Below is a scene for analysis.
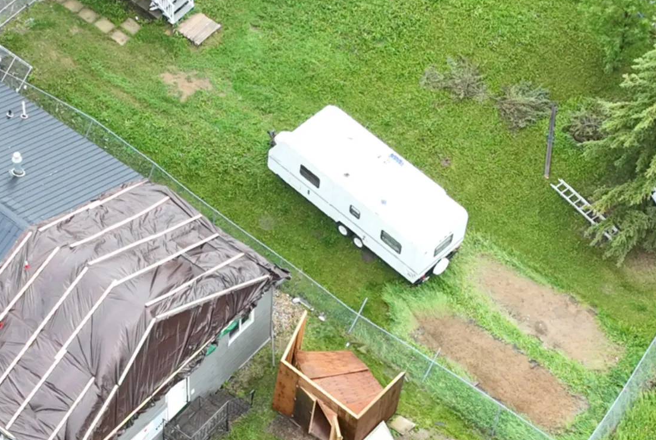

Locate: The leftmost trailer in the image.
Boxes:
[268,105,466,286]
